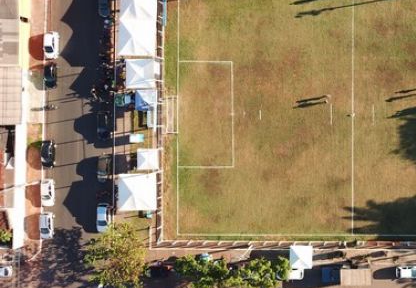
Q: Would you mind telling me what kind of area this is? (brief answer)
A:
sports ground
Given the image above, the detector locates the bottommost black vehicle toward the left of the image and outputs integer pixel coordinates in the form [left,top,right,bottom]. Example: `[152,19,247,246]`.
[145,264,172,279]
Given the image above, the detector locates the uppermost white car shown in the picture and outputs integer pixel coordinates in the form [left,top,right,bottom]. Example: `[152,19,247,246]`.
[43,32,59,58]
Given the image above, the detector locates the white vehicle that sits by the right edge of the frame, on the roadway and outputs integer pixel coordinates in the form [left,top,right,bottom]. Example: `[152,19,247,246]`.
[396,266,416,279]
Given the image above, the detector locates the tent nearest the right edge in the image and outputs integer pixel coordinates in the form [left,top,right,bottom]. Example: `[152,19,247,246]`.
[290,242,314,269]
